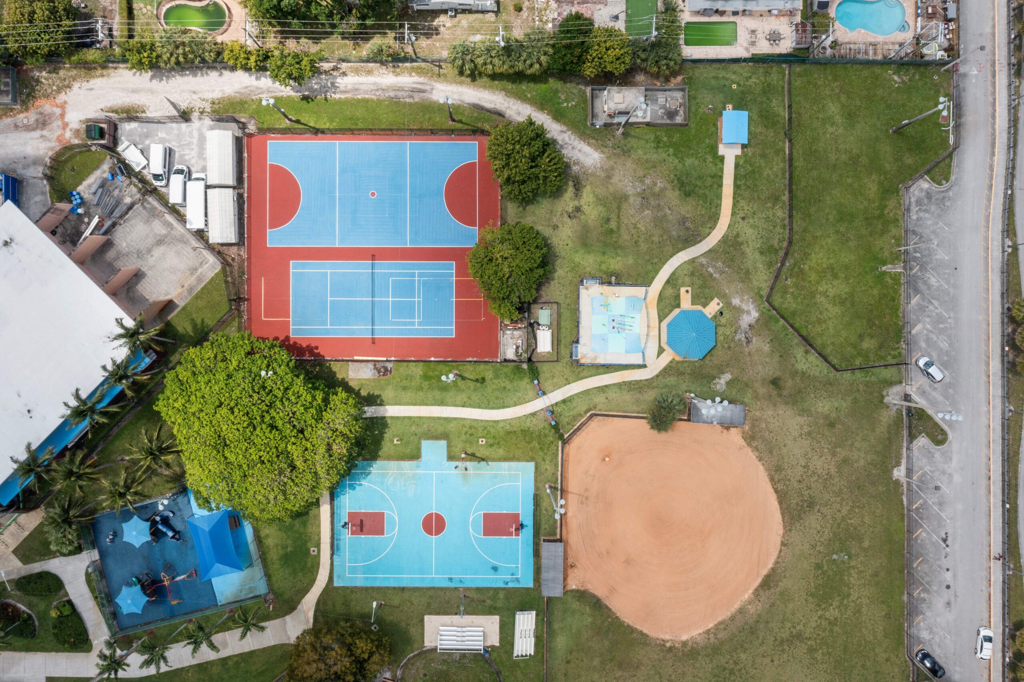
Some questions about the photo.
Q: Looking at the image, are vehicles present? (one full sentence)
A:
Yes, looking at the shot, I can spot a vehicle.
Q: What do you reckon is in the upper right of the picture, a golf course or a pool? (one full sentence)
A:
You can see a pool in the upper right of the picture.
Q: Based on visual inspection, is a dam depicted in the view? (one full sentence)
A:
No, the frame has no dam in it.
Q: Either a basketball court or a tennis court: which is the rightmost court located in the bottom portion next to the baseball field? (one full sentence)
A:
I'd say the rightmost court located in the bottom portion next to the baseball field is a basketball court.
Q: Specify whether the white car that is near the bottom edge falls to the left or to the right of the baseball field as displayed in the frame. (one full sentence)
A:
The white car that is near the bottom edge is to the right of the baseball field.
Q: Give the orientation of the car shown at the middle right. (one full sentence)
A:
The car shown at the middle right runs at an angle in the image.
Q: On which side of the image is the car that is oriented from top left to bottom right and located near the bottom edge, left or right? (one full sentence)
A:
It is on the right.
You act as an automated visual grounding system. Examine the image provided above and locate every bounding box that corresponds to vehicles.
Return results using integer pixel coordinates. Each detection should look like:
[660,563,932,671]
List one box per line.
[165,165,187,205]
[916,650,946,681]
[183,174,207,230]
[916,356,945,384]
[147,141,167,184]
[974,628,996,663]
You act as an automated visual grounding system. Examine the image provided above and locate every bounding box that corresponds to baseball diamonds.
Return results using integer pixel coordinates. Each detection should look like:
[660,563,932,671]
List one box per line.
[564,415,783,641]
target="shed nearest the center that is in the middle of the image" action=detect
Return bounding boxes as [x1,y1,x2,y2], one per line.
[537,330,552,352]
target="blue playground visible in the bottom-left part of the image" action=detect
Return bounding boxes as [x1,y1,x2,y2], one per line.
[92,486,269,630]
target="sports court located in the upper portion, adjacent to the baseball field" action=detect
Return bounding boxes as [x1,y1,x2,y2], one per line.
[245,134,500,360]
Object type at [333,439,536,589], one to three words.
basketball court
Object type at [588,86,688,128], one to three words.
building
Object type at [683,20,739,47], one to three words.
swimming pool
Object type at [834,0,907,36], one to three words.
swimming pool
